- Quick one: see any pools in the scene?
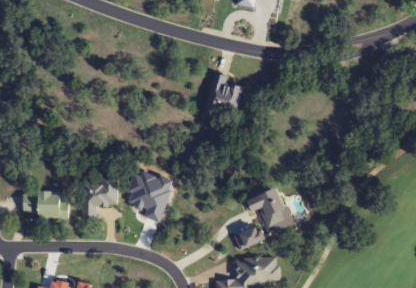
Yes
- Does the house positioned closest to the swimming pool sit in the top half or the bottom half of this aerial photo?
bottom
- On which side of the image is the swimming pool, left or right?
right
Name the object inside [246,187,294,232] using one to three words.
house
